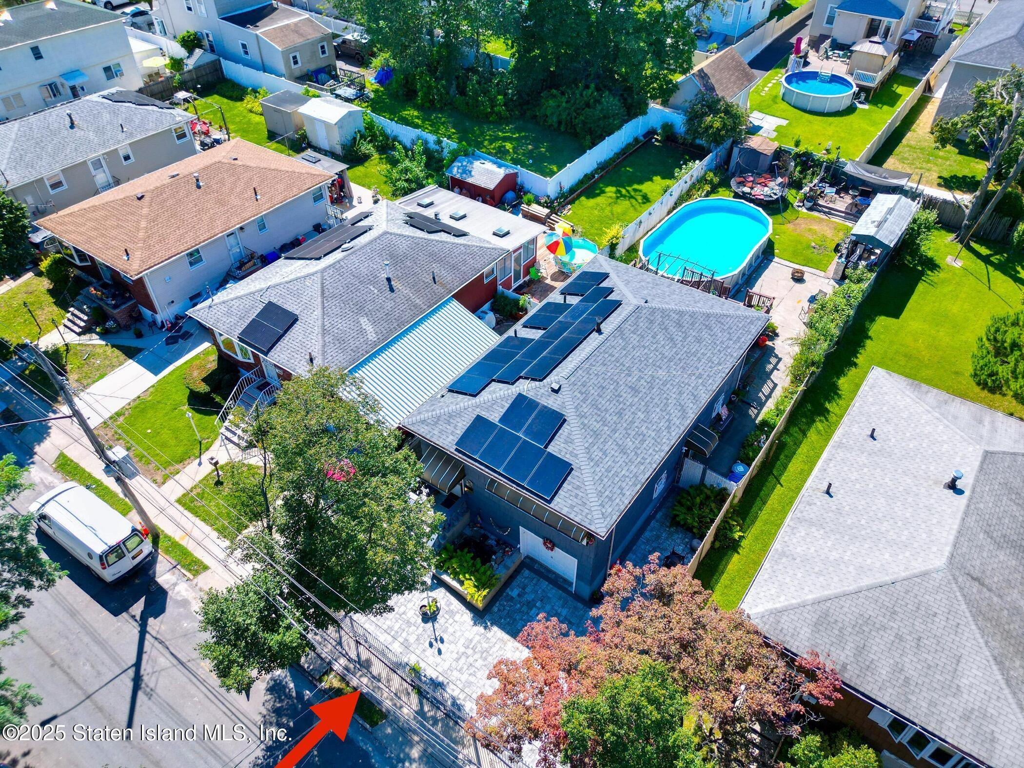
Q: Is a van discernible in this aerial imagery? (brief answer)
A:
Yes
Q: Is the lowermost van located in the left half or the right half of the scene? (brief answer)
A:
left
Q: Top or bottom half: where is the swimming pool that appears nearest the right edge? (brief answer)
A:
top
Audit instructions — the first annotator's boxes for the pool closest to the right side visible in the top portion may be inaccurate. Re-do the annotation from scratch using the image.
[780,69,859,112]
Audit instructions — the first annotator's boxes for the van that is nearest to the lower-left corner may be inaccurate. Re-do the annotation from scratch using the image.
[39,480,159,590]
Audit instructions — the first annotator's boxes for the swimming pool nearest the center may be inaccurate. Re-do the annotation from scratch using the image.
[548,239,606,278]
